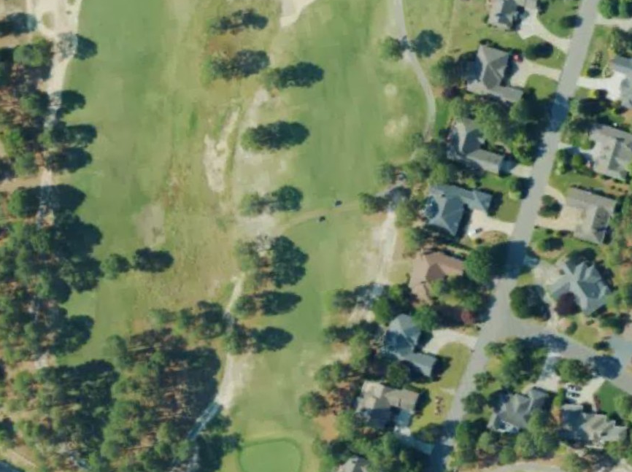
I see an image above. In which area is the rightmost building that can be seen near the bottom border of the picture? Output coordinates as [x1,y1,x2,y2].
[556,400,631,451]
